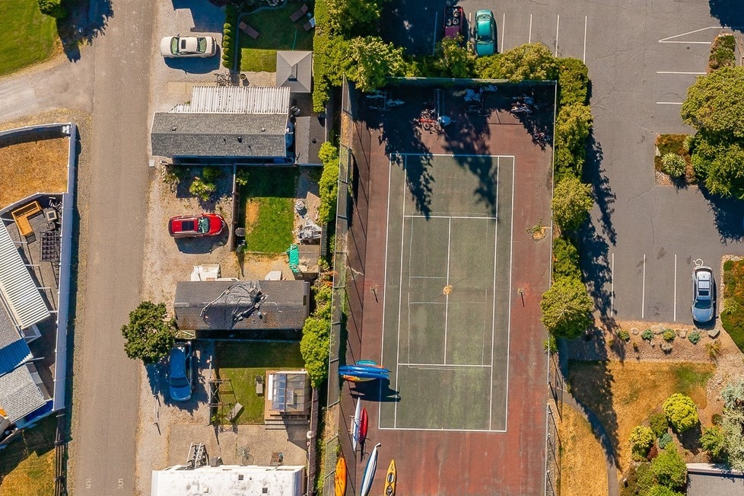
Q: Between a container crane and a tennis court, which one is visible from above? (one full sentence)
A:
The one in the frame is a tennis court.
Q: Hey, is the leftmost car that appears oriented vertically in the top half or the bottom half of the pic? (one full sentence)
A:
You can find the leftmost car that appears oriented vertically in the bottom half.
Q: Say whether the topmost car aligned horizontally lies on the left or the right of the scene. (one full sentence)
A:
It is on the left.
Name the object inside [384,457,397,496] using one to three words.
boat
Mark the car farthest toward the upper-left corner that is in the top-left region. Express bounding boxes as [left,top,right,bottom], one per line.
[164,34,221,59]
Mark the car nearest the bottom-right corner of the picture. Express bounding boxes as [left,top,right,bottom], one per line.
[691,264,718,324]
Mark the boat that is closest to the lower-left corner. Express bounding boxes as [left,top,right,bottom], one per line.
[335,456,348,496]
